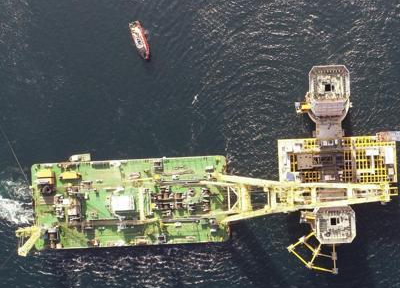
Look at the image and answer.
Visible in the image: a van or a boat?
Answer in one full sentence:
The one in the frame is a boat.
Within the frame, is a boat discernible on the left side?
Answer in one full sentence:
Yes, the scene does show a boat on the left side.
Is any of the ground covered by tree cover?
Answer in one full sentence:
No, there's no tree cover in this view.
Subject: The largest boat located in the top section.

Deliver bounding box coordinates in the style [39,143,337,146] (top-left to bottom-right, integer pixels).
[125,20,150,59]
